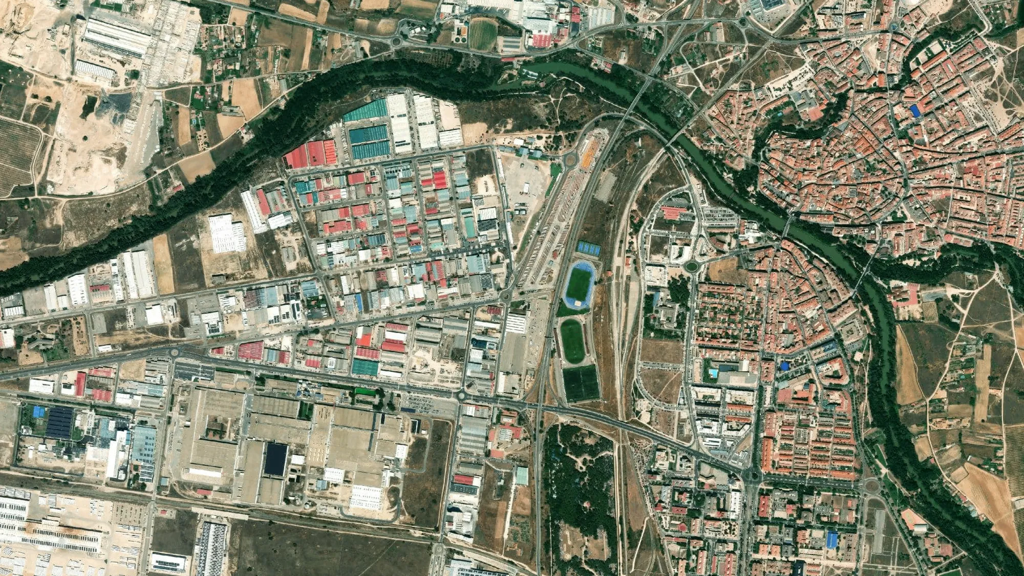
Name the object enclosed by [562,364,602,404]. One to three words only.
sports field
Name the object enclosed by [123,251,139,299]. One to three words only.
building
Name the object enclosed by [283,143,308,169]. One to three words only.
building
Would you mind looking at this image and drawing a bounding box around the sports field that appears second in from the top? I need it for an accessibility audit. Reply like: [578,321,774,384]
[557,316,592,367]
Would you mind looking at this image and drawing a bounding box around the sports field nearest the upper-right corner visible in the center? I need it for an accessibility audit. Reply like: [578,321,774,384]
[567,267,592,300]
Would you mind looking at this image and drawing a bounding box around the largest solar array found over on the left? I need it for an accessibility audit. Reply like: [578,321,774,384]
[46,408,73,437]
